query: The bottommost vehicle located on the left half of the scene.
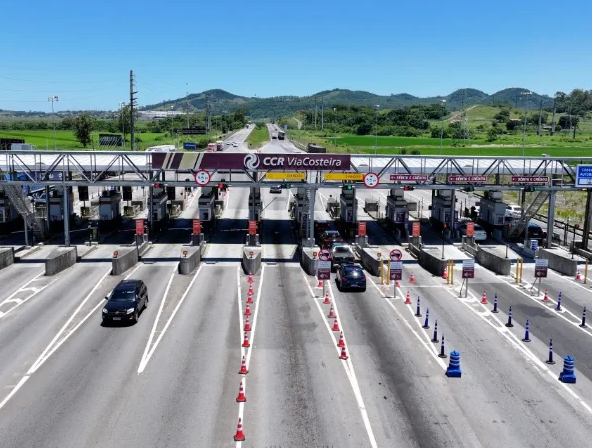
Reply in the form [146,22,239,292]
[105,276,149,320]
